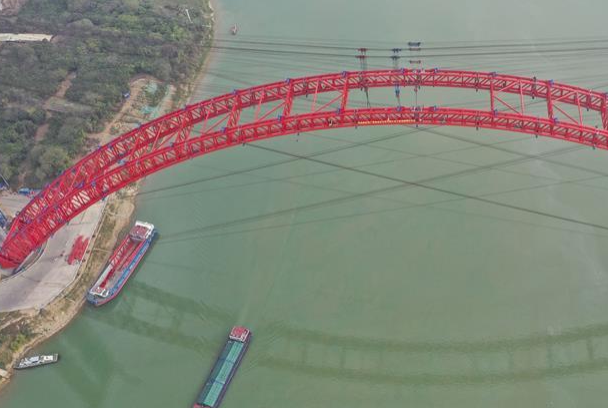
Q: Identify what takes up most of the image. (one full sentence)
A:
The bulk of the photo consists of water.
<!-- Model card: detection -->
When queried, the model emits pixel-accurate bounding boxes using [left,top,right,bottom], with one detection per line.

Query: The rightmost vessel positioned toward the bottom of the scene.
[192,322,254,408]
